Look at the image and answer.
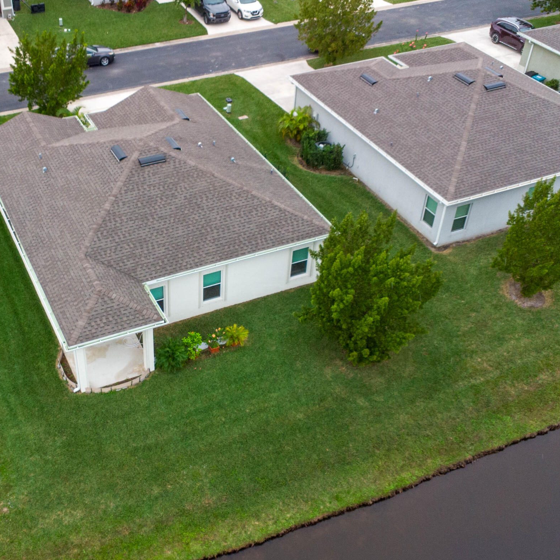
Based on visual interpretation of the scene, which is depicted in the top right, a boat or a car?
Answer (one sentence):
It is a car that can be seen in the top right.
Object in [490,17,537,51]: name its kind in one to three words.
car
